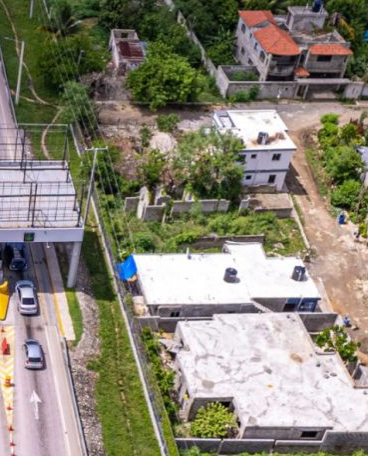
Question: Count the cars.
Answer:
3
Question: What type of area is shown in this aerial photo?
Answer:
residential area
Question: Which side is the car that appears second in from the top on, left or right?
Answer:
left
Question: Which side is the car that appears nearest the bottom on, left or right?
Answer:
left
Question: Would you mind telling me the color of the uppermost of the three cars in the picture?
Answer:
black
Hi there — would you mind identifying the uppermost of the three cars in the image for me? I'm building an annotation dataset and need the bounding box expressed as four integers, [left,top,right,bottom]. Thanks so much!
[5,242,27,271]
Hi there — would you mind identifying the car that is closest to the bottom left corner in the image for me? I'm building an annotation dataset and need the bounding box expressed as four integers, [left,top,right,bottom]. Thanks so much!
[22,341,46,372]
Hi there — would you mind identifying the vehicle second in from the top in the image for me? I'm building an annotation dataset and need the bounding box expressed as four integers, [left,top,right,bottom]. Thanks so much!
[14,283,39,315]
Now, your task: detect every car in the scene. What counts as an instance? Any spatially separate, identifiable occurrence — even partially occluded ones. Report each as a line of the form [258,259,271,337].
[5,242,27,271]
[22,341,46,372]
[14,283,39,315]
